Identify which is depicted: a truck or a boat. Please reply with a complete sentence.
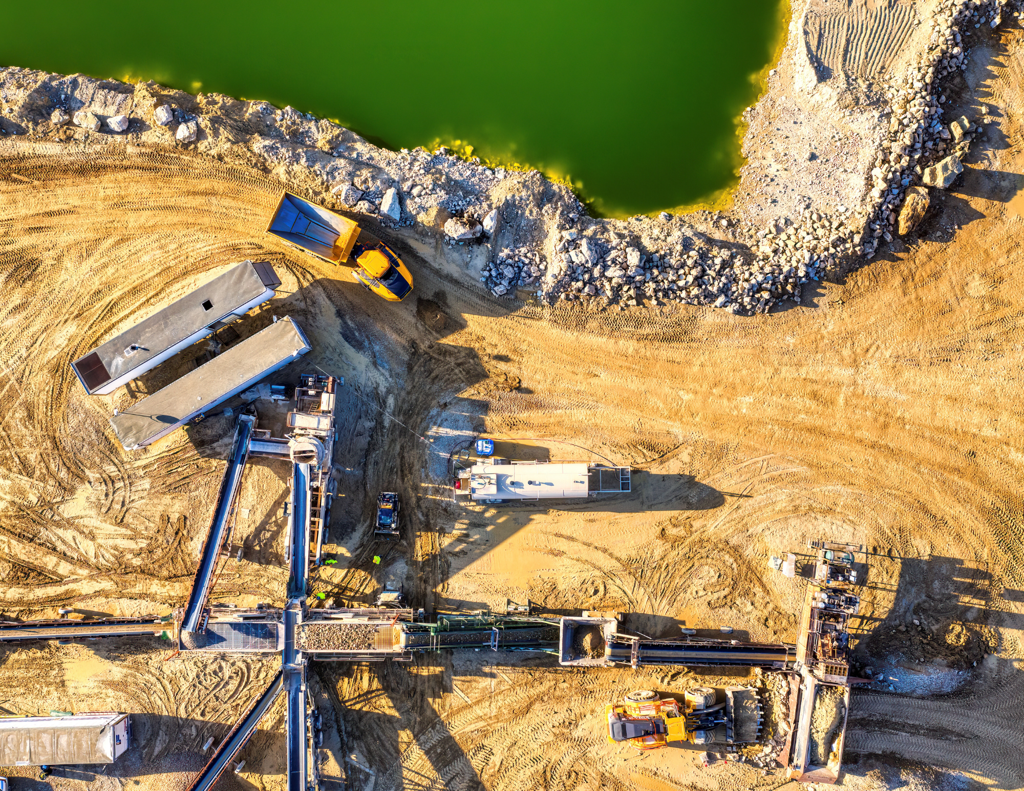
The one in the frame is a truck.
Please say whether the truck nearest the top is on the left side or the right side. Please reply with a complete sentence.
The truck nearest the top sits on the left side.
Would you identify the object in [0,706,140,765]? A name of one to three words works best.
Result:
trailer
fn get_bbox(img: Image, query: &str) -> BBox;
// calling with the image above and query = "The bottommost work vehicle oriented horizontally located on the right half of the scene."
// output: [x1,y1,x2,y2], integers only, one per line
[604,683,762,757]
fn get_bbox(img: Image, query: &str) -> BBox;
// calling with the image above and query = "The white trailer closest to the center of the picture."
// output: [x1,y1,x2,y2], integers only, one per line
[453,456,631,503]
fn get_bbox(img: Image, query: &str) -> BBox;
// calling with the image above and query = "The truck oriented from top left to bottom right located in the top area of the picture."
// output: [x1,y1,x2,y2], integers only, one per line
[262,189,413,303]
